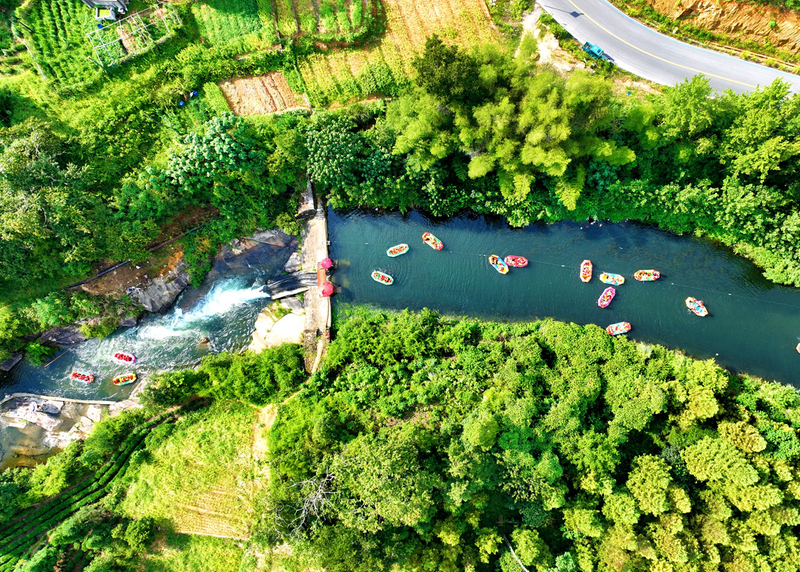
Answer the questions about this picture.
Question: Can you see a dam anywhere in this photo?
Yes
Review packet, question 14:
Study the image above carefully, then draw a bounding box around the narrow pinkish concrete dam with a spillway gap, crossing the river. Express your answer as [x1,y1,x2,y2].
[272,178,331,375]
